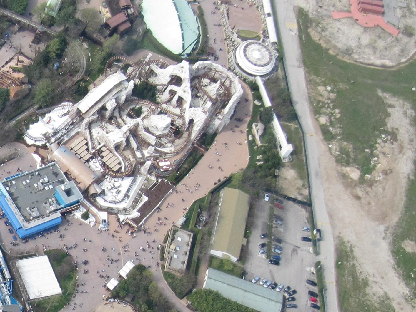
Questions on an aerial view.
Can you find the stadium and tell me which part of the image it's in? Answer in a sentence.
You can find the stadium in the top area of the picture.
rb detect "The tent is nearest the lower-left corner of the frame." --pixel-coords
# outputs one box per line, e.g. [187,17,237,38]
[15,255,61,312]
